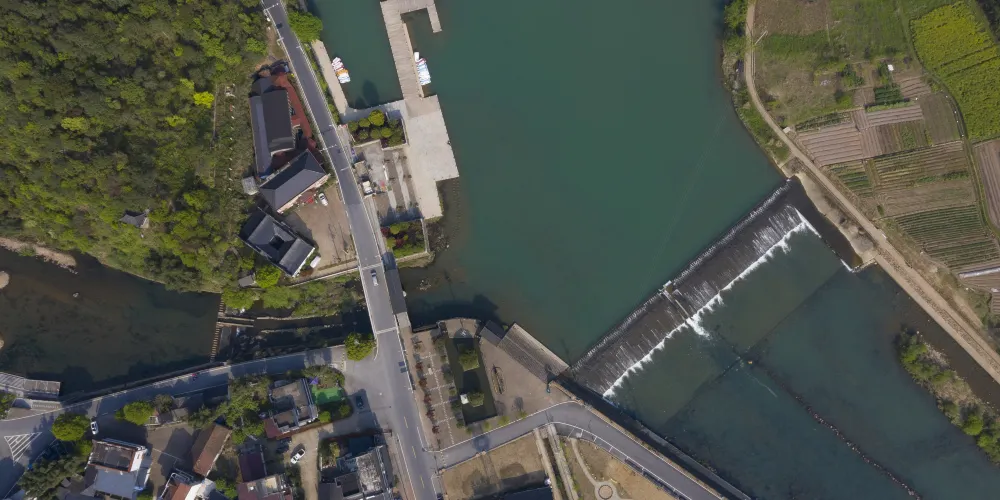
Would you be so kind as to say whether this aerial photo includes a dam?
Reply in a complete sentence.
Yes, this view includes a dam.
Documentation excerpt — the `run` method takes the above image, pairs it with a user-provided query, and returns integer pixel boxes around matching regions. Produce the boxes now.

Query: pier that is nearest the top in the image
[380,0,441,101]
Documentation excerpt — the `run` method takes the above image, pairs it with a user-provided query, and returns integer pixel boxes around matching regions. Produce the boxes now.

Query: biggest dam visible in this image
[571,178,857,396]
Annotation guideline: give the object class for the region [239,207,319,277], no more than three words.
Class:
house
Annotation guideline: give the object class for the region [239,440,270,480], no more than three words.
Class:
house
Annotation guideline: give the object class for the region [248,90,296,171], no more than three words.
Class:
building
